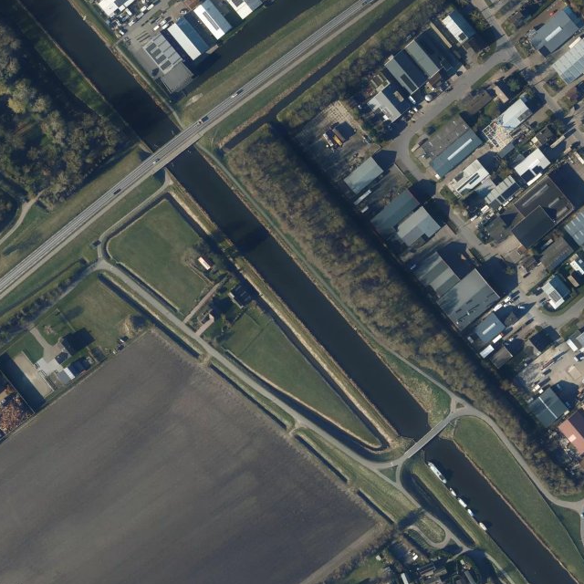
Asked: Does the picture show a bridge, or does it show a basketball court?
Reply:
bridge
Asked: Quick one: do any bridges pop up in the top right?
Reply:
No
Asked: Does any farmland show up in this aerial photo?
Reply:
Yes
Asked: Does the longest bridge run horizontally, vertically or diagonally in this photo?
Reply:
diagonally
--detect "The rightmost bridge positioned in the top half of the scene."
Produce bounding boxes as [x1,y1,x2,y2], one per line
[140,123,203,179]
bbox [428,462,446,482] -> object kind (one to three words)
boat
